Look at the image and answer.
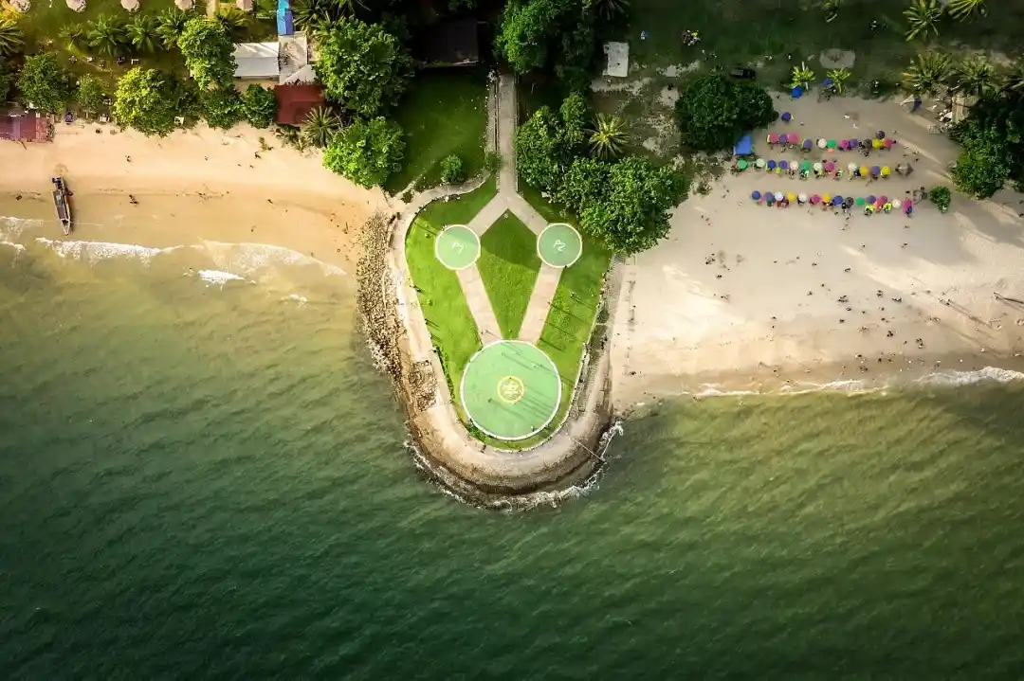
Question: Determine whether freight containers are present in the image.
No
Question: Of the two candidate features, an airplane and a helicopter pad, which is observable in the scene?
helicopter pad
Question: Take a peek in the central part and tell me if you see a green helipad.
Yes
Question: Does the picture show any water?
Yes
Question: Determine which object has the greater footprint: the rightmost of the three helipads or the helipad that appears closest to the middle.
the helipad that appears closest to the middle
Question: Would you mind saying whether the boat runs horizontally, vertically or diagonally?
vertically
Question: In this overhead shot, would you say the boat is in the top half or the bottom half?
top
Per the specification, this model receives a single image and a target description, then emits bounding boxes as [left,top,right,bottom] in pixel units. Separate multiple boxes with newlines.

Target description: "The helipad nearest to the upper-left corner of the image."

[435,224,480,270]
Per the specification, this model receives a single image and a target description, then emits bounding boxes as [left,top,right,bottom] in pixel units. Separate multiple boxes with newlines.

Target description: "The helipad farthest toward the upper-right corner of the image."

[537,222,582,267]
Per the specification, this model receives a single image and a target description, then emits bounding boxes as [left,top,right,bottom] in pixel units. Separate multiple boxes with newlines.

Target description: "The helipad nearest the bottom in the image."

[461,340,561,441]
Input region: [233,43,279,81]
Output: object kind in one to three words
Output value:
house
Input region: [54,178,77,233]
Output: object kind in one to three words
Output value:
boat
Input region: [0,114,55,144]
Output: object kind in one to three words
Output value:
building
